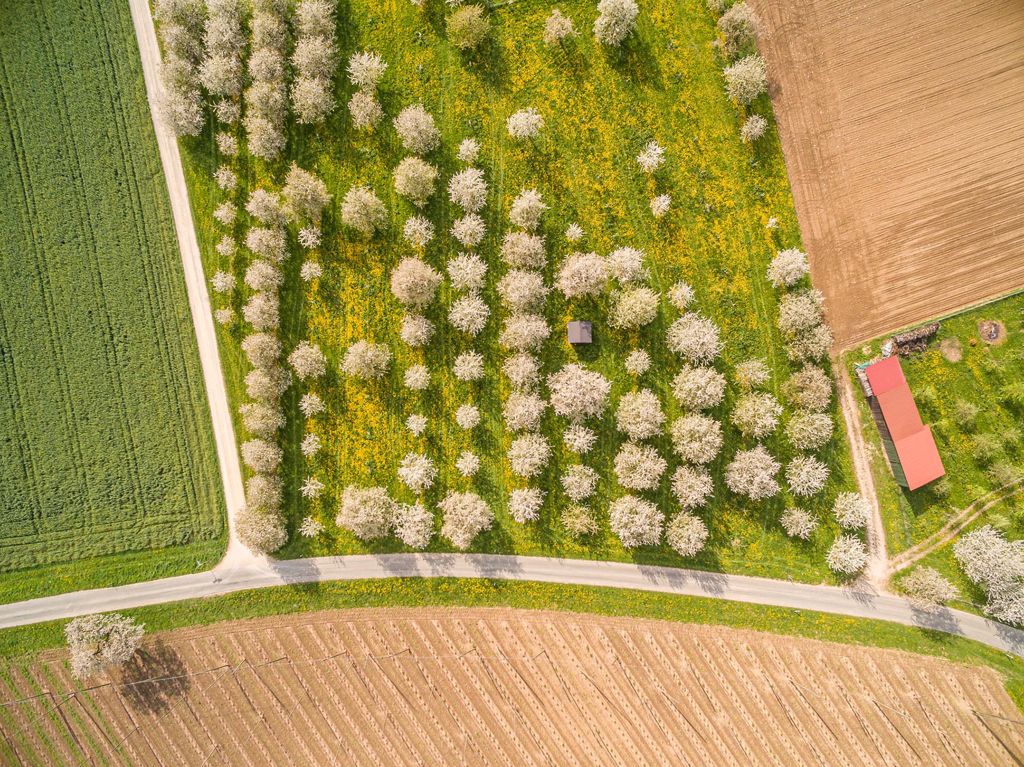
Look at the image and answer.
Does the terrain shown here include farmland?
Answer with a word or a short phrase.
Yes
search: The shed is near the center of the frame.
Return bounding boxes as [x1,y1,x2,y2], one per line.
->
[568,321,592,343]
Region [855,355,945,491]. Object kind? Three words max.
barn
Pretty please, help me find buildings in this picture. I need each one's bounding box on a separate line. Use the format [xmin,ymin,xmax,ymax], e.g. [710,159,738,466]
[855,355,945,491]
[568,321,592,343]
